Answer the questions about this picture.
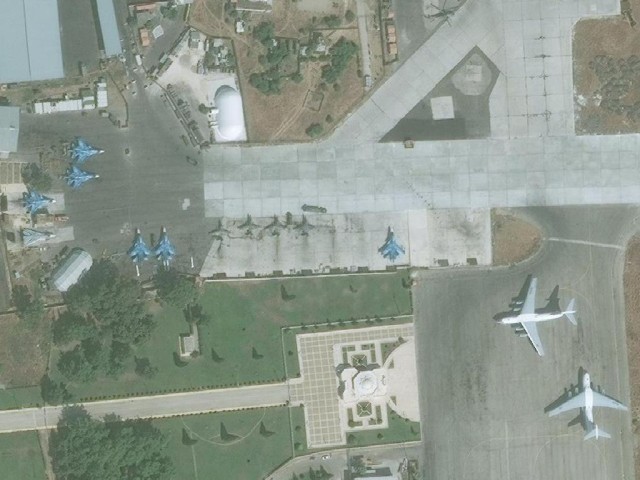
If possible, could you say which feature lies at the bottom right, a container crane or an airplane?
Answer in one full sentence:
Looking at the bottom right, you will find an airplane.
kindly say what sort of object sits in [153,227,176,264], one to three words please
airplane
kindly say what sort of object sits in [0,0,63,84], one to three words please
hangar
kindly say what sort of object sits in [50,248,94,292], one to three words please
shed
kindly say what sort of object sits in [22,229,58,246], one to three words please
airplane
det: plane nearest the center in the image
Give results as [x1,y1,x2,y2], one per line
[294,213,316,239]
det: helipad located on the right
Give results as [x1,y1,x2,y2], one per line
[431,96,454,119]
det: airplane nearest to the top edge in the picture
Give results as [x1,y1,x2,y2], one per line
[68,140,105,162]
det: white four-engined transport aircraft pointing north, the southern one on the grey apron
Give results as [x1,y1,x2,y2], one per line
[551,371,631,442]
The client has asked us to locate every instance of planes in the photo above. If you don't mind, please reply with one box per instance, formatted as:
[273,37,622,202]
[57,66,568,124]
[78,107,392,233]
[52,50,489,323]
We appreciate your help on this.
[266,214,288,239]
[499,278,580,357]
[551,371,631,442]
[21,191,56,214]
[22,229,58,246]
[153,227,176,264]
[128,229,151,264]
[64,166,100,189]
[381,228,403,264]
[68,140,105,162]
[294,213,316,239]
[239,214,261,239]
